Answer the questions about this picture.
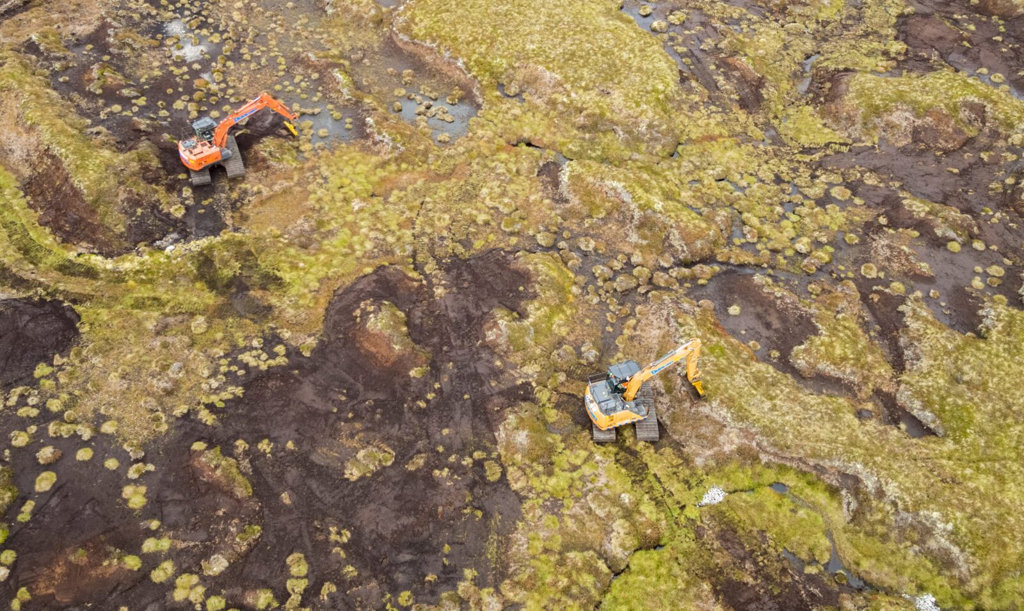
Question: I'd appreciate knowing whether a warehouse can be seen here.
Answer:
No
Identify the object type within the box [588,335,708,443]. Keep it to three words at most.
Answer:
work vehicle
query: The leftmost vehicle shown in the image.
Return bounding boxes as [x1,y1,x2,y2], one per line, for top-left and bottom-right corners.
[179,81,301,186]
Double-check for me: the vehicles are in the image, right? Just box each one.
[179,81,301,186]
[588,335,708,443]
